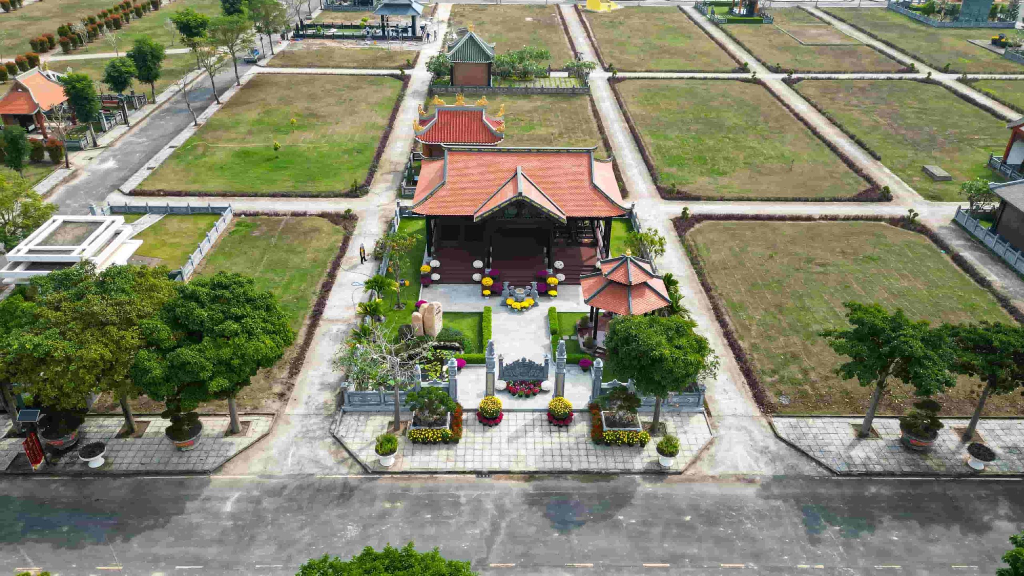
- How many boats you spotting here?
0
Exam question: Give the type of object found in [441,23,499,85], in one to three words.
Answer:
building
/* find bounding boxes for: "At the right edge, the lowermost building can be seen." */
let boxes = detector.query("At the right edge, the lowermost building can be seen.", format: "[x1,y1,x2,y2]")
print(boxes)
[989,175,1024,250]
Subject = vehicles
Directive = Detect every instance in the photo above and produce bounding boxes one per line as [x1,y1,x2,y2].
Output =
[243,46,262,61]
